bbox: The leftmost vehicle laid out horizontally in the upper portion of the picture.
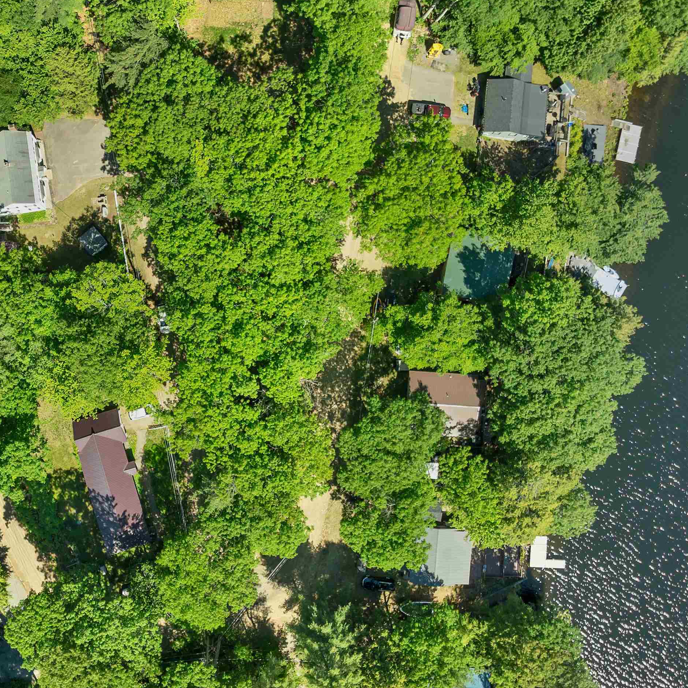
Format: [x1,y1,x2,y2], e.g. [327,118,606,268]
[409,101,451,121]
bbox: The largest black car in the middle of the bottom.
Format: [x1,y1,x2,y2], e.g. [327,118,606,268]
[359,572,396,592]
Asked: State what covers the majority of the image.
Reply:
trees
